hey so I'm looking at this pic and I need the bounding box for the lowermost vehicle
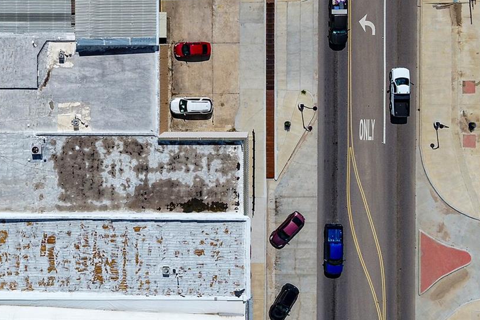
[268,280,300,320]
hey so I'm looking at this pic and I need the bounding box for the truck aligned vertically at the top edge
[328,0,350,49]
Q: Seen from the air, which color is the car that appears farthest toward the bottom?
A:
black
